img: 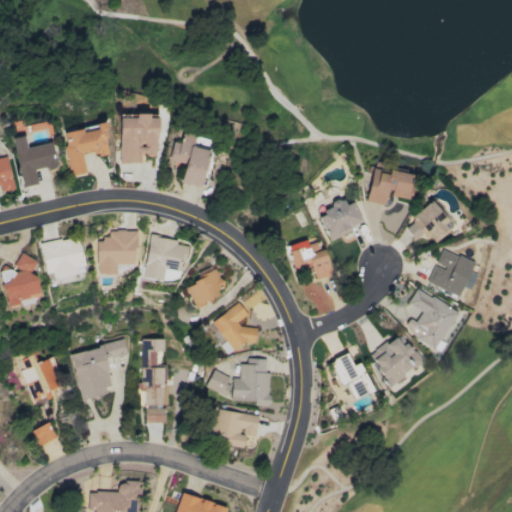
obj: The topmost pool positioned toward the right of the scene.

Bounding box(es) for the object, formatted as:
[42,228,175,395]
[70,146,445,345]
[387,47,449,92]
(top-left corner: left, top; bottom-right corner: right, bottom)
[323,168,346,182]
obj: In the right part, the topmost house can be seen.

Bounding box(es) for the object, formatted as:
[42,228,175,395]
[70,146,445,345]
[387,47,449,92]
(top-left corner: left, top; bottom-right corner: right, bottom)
[370,167,416,204]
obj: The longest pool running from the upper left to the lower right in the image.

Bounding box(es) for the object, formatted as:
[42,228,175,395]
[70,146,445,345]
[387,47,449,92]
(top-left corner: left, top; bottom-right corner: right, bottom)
[435,189,460,214]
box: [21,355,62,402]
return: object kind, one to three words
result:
house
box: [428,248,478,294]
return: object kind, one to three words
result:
house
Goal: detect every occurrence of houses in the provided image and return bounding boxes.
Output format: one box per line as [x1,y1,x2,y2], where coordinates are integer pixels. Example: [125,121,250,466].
[0,155,14,194]
[206,370,232,399]
[409,202,454,241]
[214,303,260,356]
[336,354,376,401]
[98,230,138,274]
[40,240,88,286]
[121,112,160,163]
[407,289,460,352]
[66,123,112,176]
[428,248,478,294]
[321,202,367,244]
[144,234,190,280]
[70,339,128,400]
[138,340,168,424]
[232,358,270,403]
[0,253,44,308]
[374,338,422,386]
[370,167,416,204]
[14,136,59,187]
[214,412,259,449]
[168,134,212,188]
[88,481,142,512]
[188,270,228,306]
[21,355,62,402]
[176,494,229,512]
[292,240,336,281]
